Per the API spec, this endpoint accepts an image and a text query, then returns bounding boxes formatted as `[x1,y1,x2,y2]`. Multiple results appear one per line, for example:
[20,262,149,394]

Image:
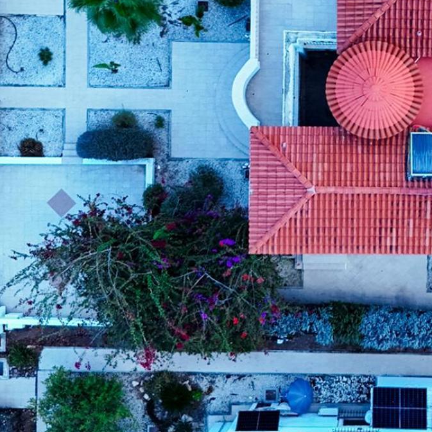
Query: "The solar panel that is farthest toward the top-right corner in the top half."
[411,134,432,178]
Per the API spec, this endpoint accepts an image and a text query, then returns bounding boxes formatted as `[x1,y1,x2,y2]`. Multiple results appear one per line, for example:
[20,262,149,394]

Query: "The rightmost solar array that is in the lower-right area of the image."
[373,386,426,428]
